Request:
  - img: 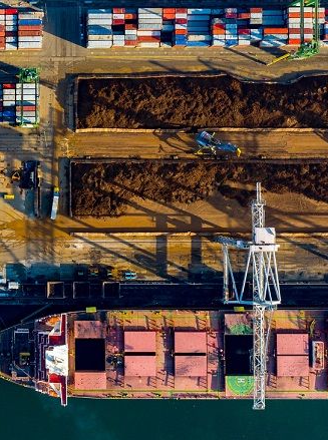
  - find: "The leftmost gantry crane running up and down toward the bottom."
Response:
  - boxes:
[213,182,284,411]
